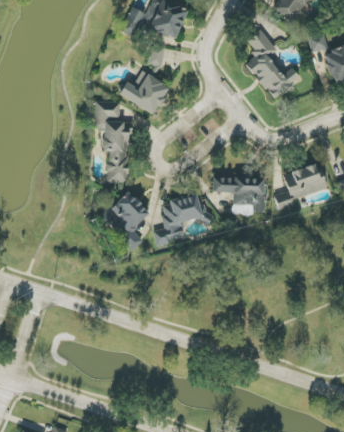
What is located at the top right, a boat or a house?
house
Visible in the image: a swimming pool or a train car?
swimming pool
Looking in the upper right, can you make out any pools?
Yes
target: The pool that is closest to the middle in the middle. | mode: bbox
[184,224,212,240]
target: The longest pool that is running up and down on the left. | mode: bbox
[92,138,106,182]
